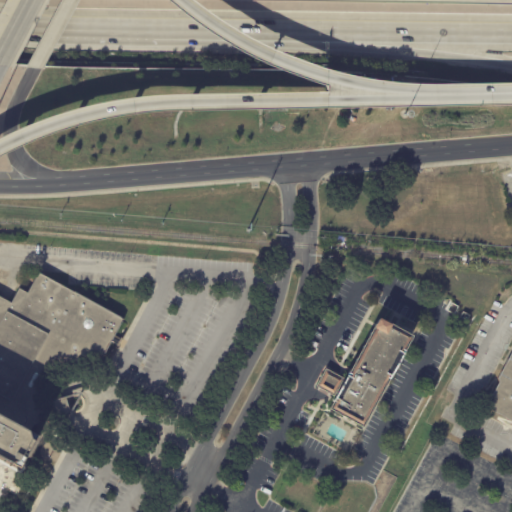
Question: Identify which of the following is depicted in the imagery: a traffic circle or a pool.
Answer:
pool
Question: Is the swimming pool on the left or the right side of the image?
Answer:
right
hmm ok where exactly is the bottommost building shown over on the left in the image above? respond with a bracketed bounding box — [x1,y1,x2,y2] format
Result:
[0,408,39,471]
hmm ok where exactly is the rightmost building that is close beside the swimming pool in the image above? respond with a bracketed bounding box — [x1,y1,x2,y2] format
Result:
[332,317,414,426]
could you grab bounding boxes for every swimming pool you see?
[306,410,365,451]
